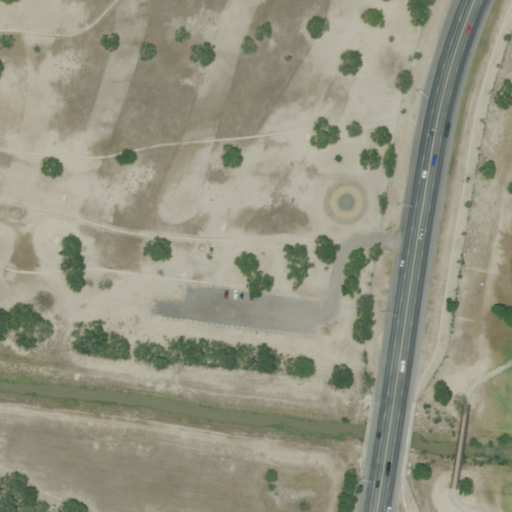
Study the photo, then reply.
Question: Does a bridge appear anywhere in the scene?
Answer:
Yes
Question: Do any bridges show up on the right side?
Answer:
Yes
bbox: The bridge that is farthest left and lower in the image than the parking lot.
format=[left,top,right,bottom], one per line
[358,396,420,474]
